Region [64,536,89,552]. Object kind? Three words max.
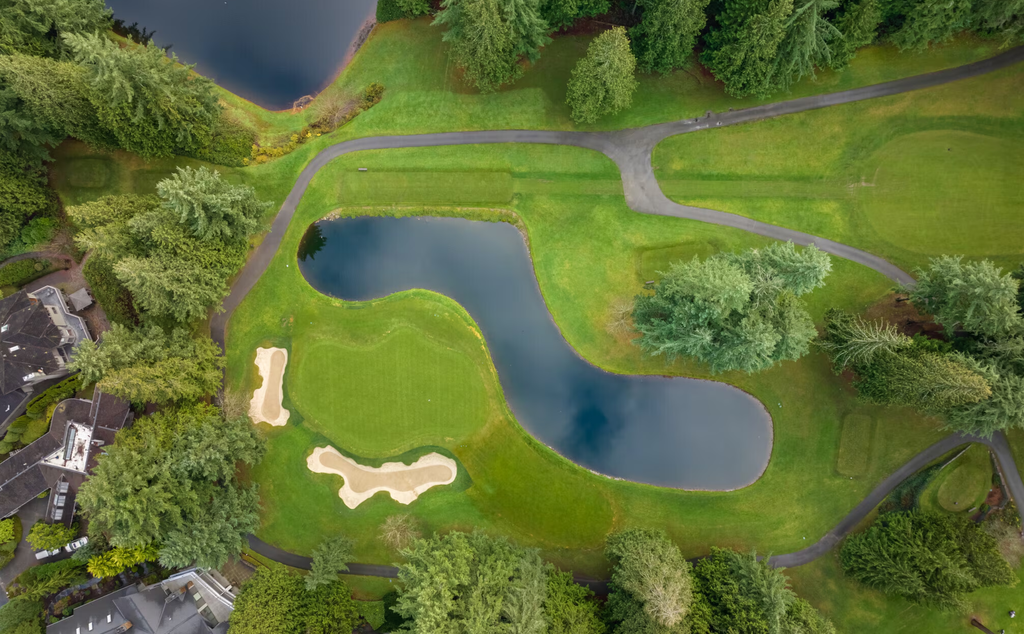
car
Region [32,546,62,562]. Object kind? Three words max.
vehicle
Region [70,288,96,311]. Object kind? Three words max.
gazebo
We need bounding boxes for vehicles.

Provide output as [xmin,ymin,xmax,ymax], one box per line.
[32,546,62,562]
[64,536,89,552]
